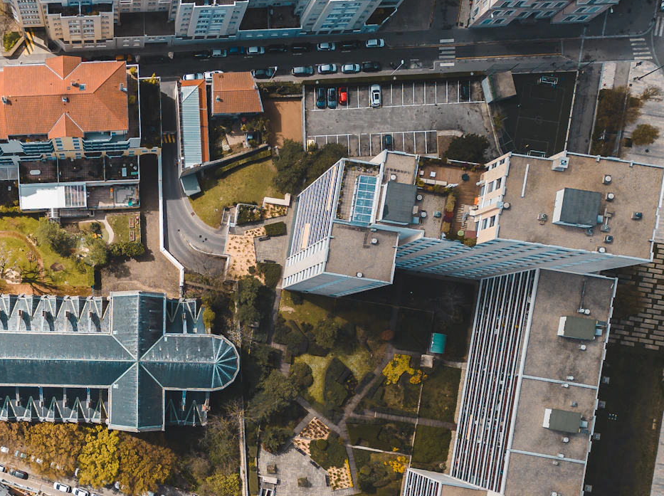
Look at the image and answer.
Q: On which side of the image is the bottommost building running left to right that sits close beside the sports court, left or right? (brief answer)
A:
right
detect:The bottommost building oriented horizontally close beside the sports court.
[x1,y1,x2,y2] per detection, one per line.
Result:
[278,150,664,296]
